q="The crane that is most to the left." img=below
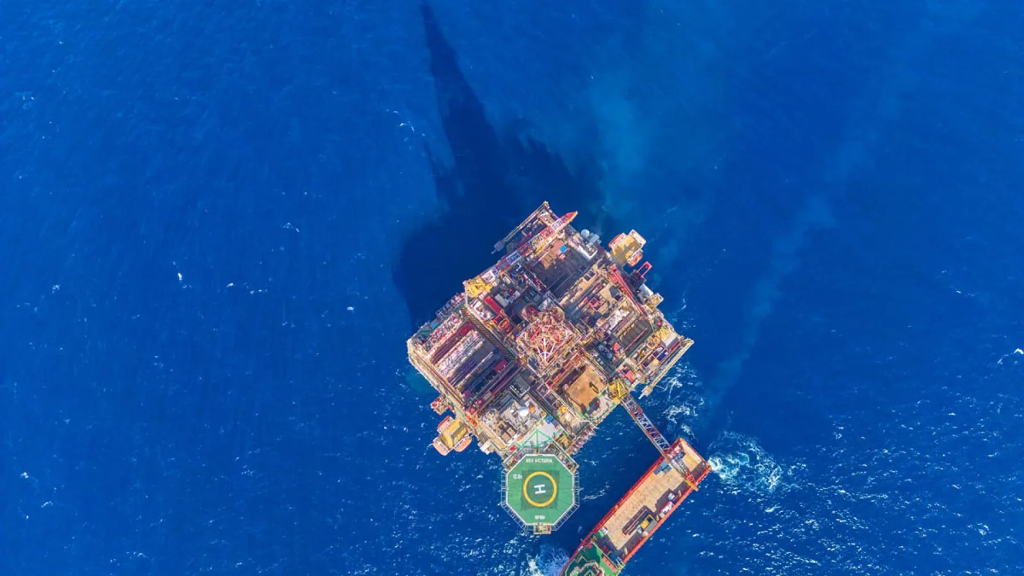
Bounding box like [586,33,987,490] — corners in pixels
[463,209,581,301]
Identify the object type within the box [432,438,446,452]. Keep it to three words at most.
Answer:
boat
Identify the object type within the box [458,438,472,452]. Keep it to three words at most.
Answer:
boat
